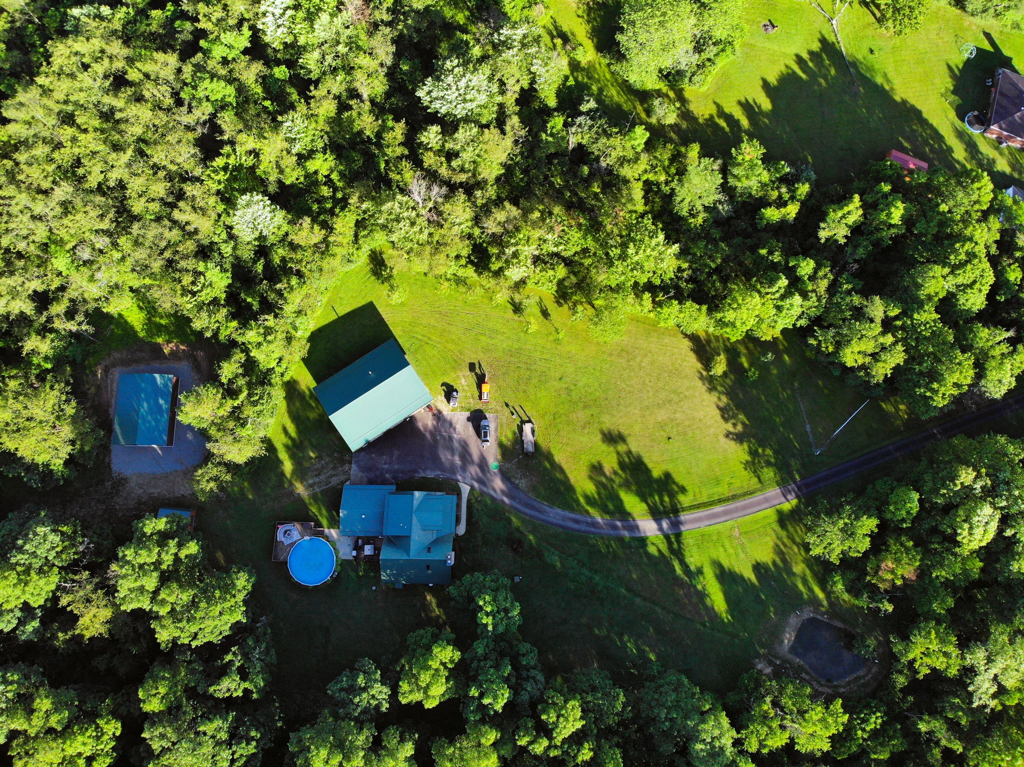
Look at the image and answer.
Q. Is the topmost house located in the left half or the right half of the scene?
right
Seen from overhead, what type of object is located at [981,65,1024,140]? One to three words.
house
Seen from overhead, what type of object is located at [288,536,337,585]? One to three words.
swimming pool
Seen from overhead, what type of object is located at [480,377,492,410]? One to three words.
vehicle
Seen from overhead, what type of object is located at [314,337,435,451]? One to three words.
barn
